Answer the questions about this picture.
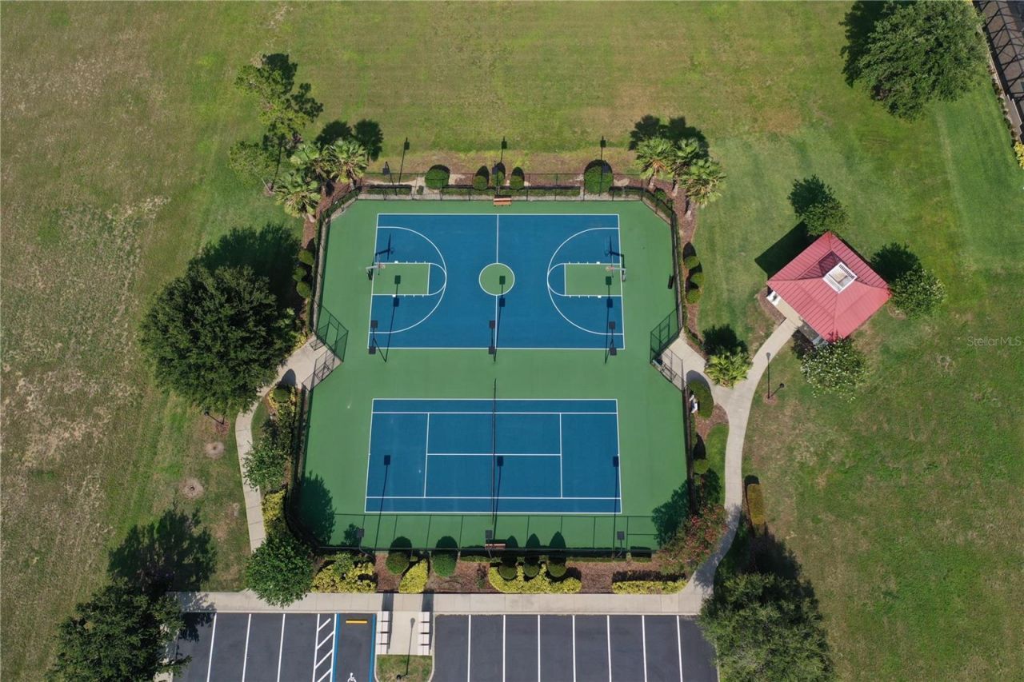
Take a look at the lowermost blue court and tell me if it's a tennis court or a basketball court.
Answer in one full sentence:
Specifically, the lowermost blue court is a tennis court.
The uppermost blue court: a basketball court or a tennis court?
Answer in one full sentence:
It turns out the uppermost blue court is a basketball court.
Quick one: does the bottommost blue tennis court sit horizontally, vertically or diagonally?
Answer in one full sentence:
In this picture, the bottommost blue tennis court lies horizontally.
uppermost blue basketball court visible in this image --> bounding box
[368,213,625,349]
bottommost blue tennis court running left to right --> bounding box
[365,398,622,514]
